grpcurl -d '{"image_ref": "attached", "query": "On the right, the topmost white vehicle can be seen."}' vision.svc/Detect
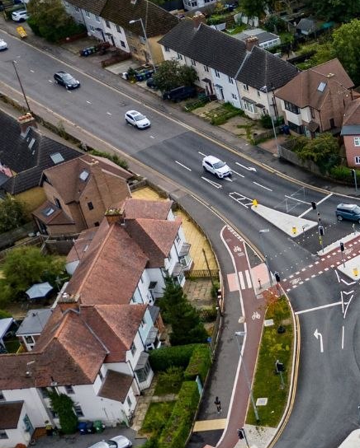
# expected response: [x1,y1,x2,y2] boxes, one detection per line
[199,153,233,178]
